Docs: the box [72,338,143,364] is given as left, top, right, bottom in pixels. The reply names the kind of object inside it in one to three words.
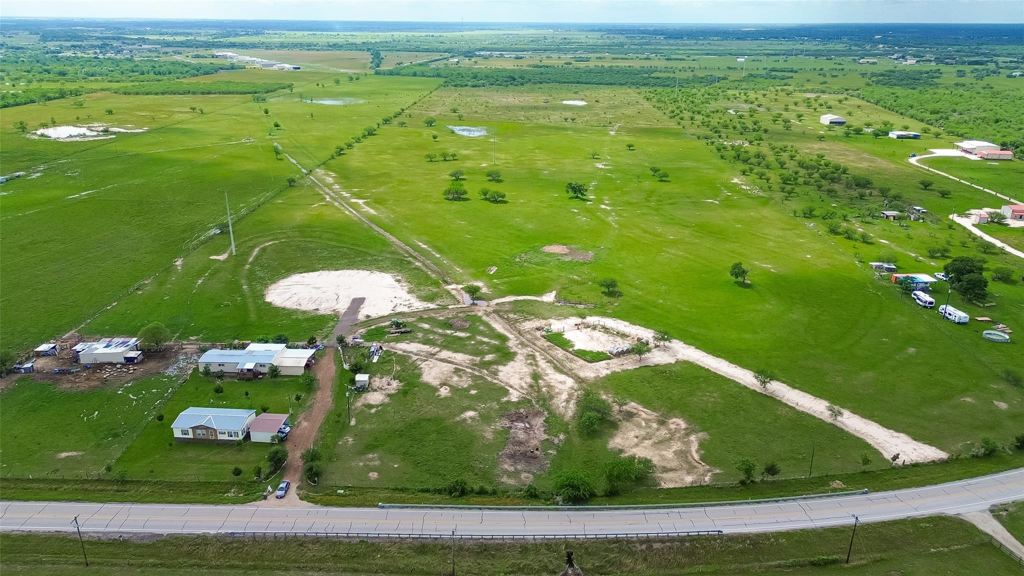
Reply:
barn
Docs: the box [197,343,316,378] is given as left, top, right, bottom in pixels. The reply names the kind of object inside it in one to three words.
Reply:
house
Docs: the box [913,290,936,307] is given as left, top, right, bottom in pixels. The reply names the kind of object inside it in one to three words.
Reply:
camper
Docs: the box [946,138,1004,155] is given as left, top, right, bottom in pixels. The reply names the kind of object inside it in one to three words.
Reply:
hangar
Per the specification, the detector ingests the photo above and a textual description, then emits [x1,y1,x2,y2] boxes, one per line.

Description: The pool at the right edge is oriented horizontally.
[981,328,1013,342]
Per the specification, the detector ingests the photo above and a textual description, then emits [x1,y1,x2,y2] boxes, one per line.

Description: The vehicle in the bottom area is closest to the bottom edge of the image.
[275,481,290,497]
